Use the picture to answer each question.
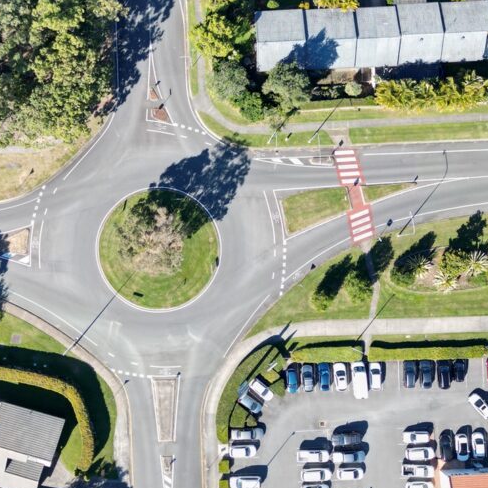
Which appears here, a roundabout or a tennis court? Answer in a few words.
roundabout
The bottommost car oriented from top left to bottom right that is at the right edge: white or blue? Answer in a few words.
white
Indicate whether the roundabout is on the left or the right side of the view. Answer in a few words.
left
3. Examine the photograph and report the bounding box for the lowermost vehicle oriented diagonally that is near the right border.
[467,392,488,419]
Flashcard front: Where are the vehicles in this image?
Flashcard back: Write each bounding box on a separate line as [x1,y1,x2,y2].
[419,360,435,389]
[300,483,329,488]
[250,378,275,402]
[301,467,332,483]
[236,395,265,417]
[437,359,452,389]
[285,364,299,393]
[467,392,488,419]
[402,430,429,445]
[331,432,362,447]
[332,449,365,465]
[404,446,435,462]
[230,445,257,459]
[402,360,417,389]
[452,359,468,382]
[301,364,315,392]
[333,363,348,392]
[297,449,329,464]
[368,362,382,390]
[471,432,486,458]
[439,434,455,461]
[230,475,261,488]
[231,427,263,441]
[352,361,369,399]
[454,433,470,461]
[405,481,434,488]
[316,364,331,391]
[402,463,434,478]
[336,467,363,482]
